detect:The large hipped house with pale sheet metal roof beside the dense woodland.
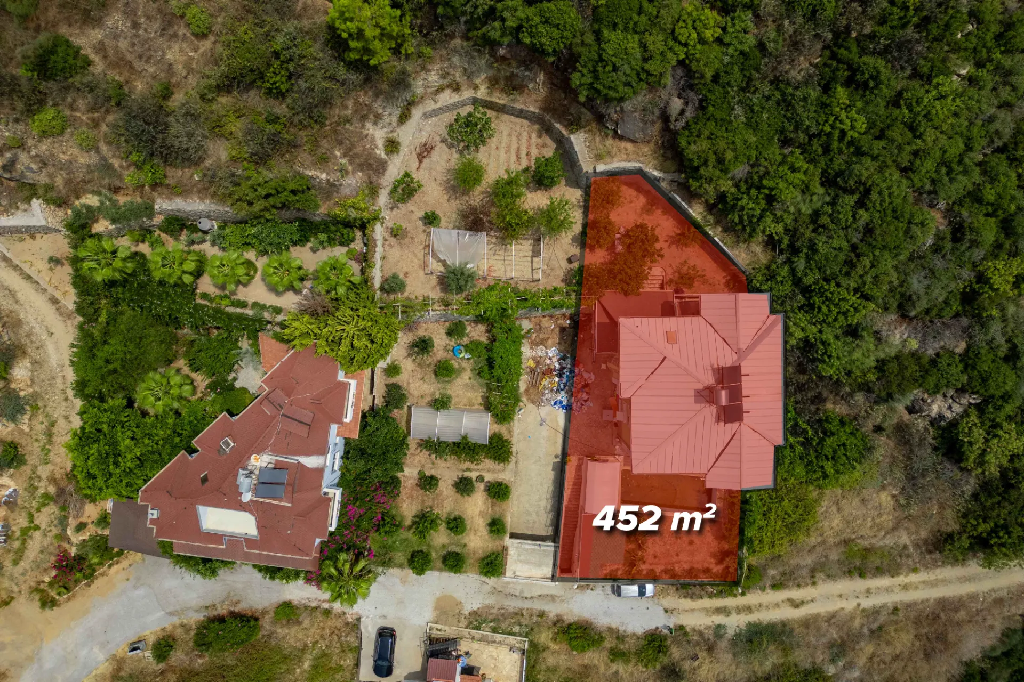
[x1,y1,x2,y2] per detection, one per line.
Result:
[612,291,788,490]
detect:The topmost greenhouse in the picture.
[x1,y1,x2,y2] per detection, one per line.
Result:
[428,231,542,280]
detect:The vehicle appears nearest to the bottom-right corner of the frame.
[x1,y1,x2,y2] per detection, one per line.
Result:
[610,579,655,605]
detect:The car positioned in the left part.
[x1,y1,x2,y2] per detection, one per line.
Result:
[371,623,398,676]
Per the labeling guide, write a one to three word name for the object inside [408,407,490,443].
greenhouse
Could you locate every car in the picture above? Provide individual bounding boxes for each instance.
[371,623,398,676]
[610,579,655,605]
